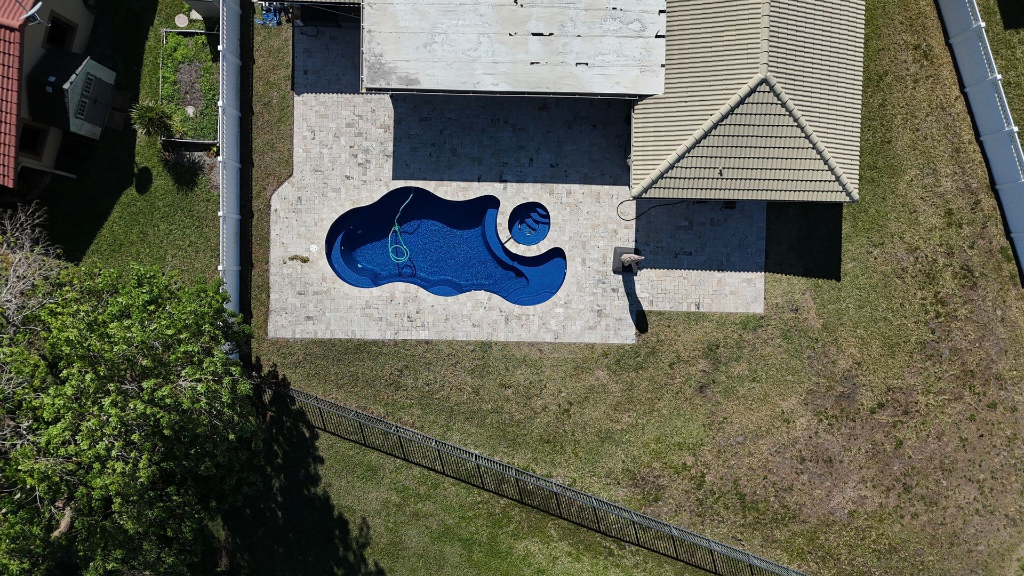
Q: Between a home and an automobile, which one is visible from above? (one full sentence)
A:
This aerial view contains a home.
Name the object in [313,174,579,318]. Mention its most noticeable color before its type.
blue swimming pool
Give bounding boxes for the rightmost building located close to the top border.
[629,0,868,206]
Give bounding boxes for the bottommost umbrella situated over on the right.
[613,247,651,275]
